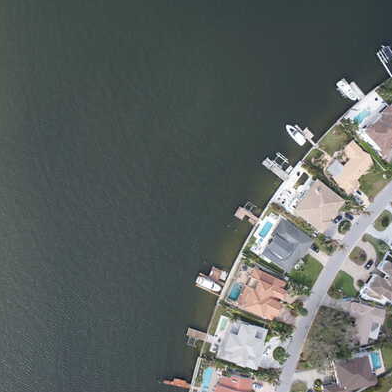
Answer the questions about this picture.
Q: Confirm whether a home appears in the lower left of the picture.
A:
No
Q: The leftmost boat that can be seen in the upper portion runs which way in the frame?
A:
at an angle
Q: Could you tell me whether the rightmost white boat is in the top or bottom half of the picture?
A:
top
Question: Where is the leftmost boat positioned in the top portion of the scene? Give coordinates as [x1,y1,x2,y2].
[285,125,306,147]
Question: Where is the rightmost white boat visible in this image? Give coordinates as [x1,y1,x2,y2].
[334,80,359,100]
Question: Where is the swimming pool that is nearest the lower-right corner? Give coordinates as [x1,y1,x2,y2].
[369,349,385,373]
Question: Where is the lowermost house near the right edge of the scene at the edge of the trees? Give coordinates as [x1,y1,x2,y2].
[322,353,375,392]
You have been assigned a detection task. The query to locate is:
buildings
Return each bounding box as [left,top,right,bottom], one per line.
[257,218,314,271]
[322,353,375,392]
[293,181,345,232]
[218,322,265,368]
[324,140,372,195]
[211,371,253,392]
[241,266,289,319]
[348,300,386,345]
[360,105,392,159]
[362,254,392,301]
